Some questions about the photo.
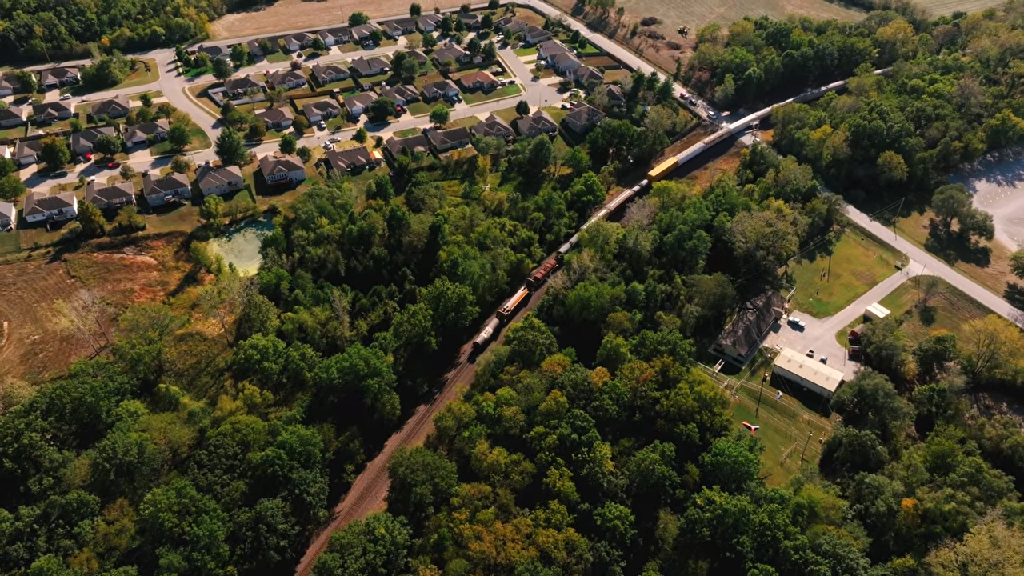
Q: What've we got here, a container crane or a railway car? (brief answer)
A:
railway car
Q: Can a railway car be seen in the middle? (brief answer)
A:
Yes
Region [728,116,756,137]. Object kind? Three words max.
rail car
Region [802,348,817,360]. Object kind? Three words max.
vehicle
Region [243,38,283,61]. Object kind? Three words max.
house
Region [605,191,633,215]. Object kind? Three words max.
rail car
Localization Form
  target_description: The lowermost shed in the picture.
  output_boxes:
[768,350,842,408]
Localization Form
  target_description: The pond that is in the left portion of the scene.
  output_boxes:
[210,218,276,275]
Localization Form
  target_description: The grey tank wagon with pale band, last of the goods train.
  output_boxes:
[474,311,505,348]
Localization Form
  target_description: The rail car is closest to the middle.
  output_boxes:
[501,281,534,317]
